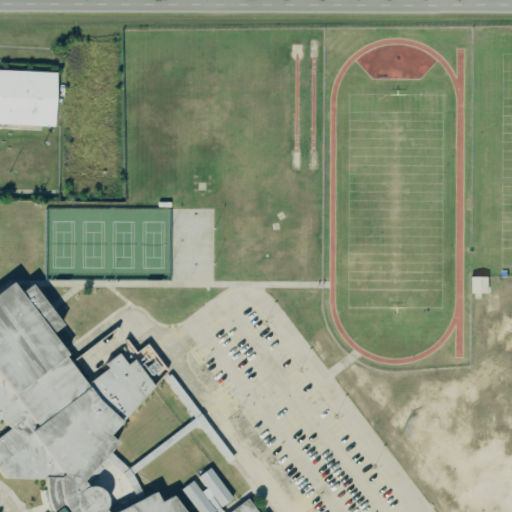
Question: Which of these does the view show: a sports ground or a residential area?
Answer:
sports ground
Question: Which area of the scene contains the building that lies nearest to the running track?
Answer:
right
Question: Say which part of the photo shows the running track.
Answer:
right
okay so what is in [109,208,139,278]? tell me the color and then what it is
green tennis court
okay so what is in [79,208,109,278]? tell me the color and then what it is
green tennis court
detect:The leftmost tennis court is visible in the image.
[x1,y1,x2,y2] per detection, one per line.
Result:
[48,208,79,278]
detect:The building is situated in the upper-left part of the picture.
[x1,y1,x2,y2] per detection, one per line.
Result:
[0,70,60,128]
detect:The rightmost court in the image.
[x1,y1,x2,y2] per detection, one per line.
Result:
[172,208,214,281]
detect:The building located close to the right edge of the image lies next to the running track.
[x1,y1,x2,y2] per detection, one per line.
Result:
[470,276,492,299]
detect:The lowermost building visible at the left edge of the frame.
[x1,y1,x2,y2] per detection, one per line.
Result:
[0,282,156,512]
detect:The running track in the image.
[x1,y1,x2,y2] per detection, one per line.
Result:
[330,38,464,365]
